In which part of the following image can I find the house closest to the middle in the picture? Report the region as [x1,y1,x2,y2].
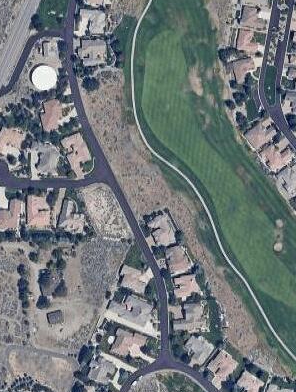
[150,213,178,245]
